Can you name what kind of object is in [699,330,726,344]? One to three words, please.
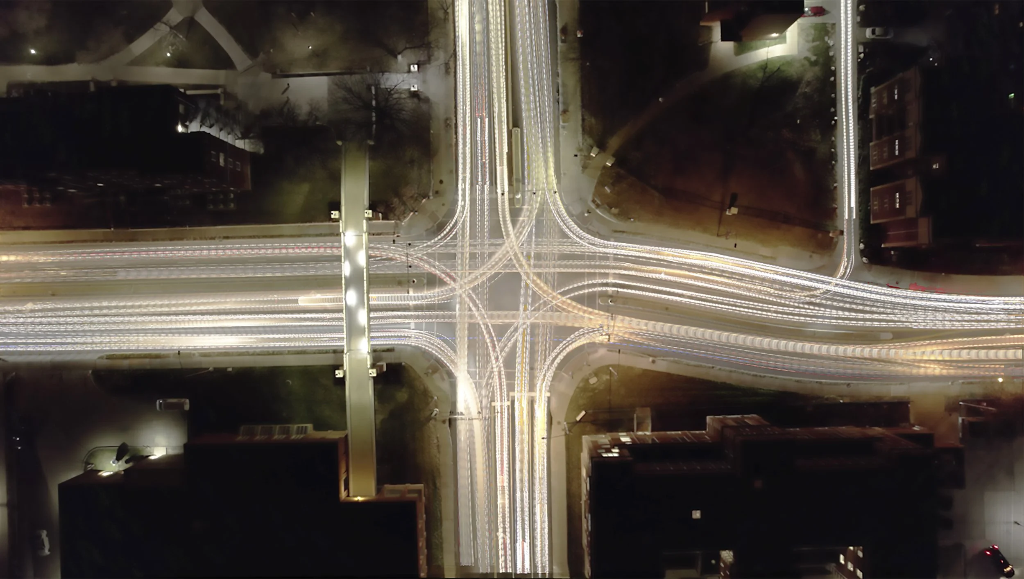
car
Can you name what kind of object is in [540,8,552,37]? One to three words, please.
vehicle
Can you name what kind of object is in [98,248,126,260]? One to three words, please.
vehicle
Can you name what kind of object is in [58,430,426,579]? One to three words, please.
building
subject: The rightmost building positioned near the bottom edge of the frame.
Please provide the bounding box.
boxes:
[583,415,989,579]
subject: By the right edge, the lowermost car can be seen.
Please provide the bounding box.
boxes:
[989,547,1011,571]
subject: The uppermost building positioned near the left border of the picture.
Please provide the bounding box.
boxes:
[0,86,196,127]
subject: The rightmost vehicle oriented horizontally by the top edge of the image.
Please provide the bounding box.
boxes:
[865,26,892,38]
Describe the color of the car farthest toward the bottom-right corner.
black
